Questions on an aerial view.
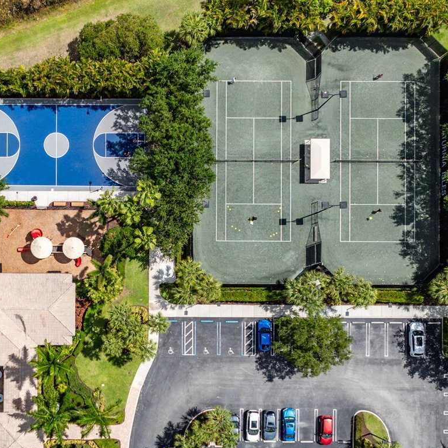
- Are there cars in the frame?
Yes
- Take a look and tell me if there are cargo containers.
No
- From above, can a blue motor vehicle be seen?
Yes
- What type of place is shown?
sports ground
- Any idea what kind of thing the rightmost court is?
tennis court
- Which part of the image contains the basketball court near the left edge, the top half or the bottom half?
top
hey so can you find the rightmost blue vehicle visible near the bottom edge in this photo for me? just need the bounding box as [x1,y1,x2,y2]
[279,408,296,441]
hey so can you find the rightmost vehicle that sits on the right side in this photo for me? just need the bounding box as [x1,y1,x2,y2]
[408,322,425,357]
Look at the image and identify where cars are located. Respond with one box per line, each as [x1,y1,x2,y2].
[225,410,240,438]
[408,322,425,357]
[245,409,260,441]
[262,409,277,440]
[257,319,271,351]
[318,414,333,445]
[279,408,296,441]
